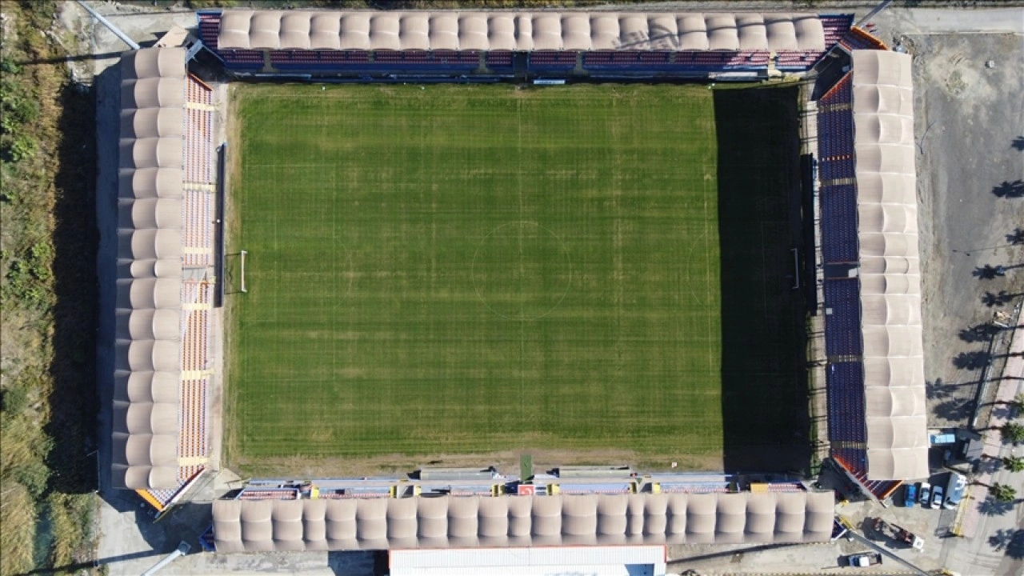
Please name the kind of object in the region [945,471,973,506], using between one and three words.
van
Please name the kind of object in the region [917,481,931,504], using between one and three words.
car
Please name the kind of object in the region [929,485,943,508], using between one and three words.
car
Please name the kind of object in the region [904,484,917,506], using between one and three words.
vehicle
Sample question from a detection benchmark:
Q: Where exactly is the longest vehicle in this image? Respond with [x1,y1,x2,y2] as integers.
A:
[877,518,930,555]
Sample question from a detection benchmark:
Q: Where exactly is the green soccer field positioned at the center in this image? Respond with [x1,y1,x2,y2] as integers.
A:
[225,81,813,479]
